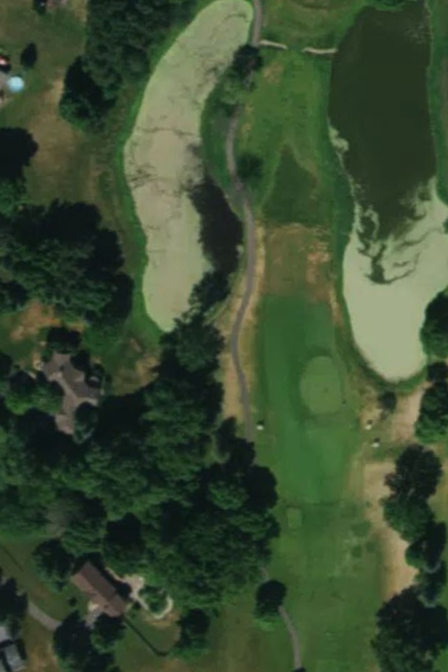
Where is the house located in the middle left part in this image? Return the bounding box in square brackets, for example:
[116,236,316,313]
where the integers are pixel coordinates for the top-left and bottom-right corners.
[39,356,102,435]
